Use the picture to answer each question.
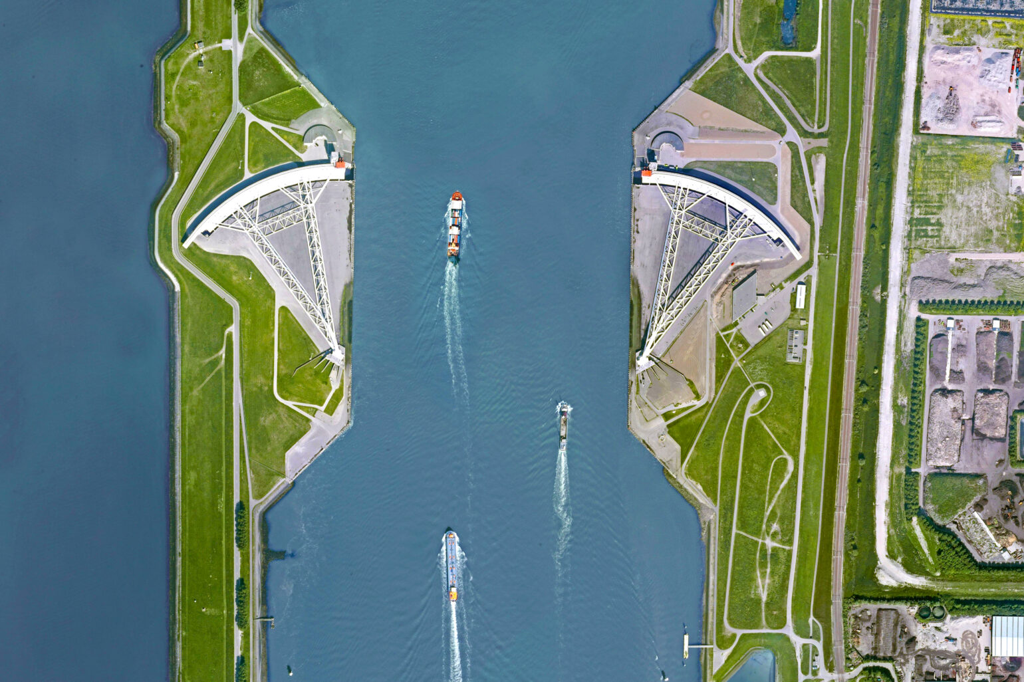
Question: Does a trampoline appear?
No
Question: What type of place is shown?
port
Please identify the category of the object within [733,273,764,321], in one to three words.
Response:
building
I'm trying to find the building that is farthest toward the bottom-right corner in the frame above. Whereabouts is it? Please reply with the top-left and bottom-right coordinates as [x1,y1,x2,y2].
[993,617,1024,657]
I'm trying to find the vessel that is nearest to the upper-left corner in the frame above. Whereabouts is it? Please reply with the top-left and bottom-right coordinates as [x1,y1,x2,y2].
[448,192,462,256]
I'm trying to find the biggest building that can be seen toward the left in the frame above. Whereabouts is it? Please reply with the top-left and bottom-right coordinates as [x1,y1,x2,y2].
[303,124,335,143]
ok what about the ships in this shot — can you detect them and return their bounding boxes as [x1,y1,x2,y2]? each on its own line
[447,531,458,601]
[560,405,567,451]
[448,192,462,256]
